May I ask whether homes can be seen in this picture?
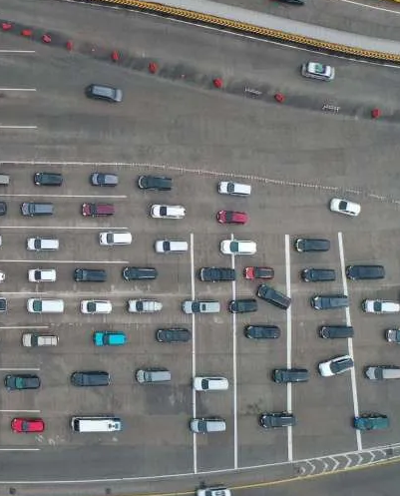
No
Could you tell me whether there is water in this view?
No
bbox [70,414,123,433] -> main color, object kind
white vehicle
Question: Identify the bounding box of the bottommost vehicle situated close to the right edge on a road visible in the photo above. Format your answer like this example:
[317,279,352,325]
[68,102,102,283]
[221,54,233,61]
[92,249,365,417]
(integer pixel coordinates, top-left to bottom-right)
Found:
[352,413,392,430]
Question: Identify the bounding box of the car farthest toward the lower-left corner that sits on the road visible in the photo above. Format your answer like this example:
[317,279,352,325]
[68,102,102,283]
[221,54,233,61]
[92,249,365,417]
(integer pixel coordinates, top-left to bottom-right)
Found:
[11,416,46,433]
